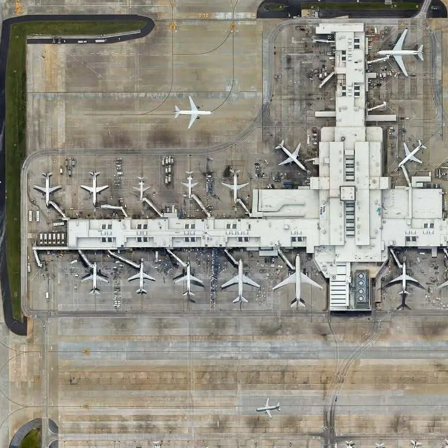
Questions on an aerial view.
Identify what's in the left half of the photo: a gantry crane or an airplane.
airplane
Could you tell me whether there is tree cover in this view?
No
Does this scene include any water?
No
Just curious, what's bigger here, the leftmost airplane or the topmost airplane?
the topmost airplane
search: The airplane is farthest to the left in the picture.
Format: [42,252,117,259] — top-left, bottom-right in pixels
[34,172,62,206]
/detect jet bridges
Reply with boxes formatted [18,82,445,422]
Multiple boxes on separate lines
[366,101,390,112]
[141,195,164,218]
[77,249,94,270]
[389,246,402,270]
[187,193,211,218]
[97,203,128,217]
[223,246,239,264]
[310,37,336,43]
[317,71,336,90]
[106,249,142,270]
[277,246,296,270]
[399,162,411,186]
[365,54,392,64]
[166,246,189,267]
[47,198,67,218]
[234,197,252,217]
[31,246,41,269]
